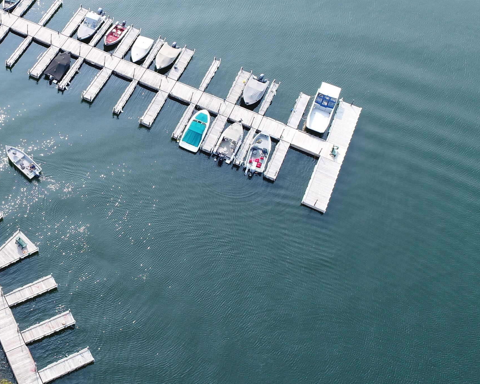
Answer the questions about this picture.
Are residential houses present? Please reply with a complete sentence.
No, there appears to be no residential house in this shot.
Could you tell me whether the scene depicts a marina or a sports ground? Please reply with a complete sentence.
The area seen from above is a marina.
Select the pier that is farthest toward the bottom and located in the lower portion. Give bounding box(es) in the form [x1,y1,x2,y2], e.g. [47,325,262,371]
[39,345,93,384]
